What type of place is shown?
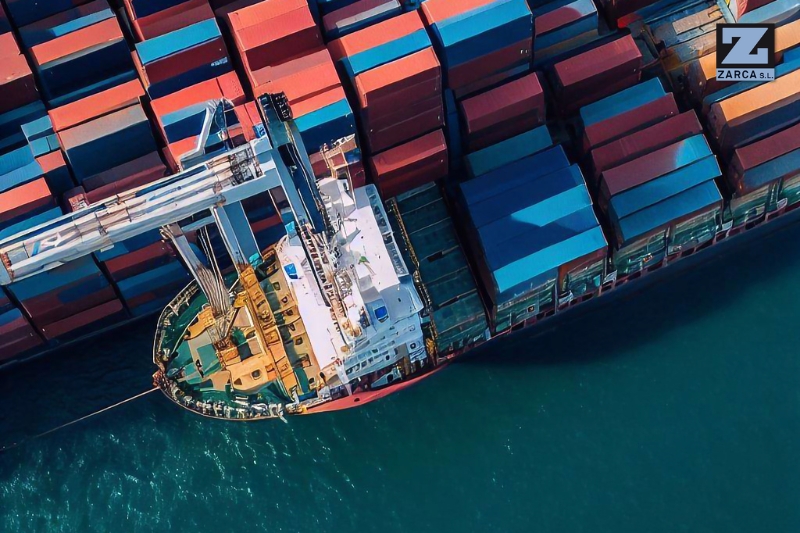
port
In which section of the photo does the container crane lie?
left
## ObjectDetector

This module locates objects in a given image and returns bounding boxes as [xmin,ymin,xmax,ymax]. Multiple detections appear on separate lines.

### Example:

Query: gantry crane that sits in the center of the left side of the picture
[0,88,366,352]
